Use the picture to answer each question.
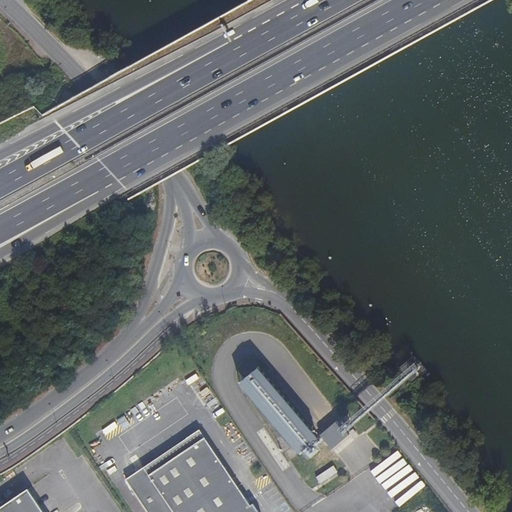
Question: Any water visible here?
Yes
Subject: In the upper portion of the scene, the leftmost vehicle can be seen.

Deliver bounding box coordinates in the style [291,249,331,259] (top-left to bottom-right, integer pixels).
[26,146,64,170]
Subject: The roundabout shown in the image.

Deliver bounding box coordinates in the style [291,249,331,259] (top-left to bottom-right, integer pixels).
[192,248,232,287]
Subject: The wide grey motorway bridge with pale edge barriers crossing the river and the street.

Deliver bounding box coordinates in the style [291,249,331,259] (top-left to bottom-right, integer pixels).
[42,0,494,198]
